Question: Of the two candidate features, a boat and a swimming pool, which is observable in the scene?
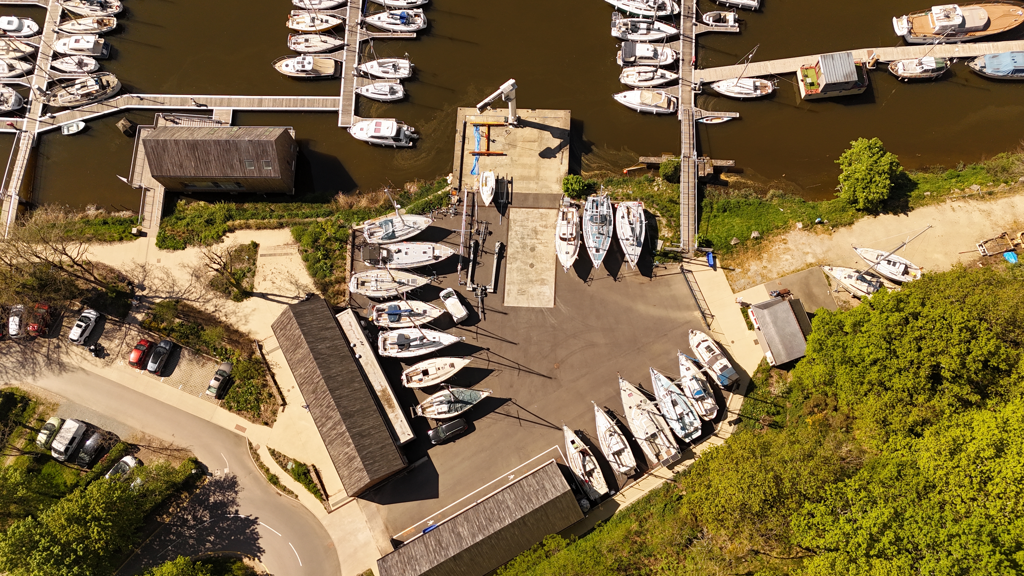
boat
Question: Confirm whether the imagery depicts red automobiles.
Yes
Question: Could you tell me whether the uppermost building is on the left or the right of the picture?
left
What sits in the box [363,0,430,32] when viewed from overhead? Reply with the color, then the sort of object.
white boat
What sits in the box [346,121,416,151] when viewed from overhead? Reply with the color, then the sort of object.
white boat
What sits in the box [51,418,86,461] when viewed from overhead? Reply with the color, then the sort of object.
white car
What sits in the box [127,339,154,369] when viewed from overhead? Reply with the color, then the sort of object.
red car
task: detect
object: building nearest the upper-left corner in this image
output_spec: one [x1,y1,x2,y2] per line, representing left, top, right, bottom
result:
[141,126,293,188]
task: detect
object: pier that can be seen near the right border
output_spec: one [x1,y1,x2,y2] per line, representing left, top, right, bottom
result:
[694,42,1024,84]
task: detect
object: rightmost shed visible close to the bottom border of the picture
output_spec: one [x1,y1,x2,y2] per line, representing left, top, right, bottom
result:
[376,459,585,576]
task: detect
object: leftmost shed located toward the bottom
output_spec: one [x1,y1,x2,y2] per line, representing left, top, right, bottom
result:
[271,299,418,497]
